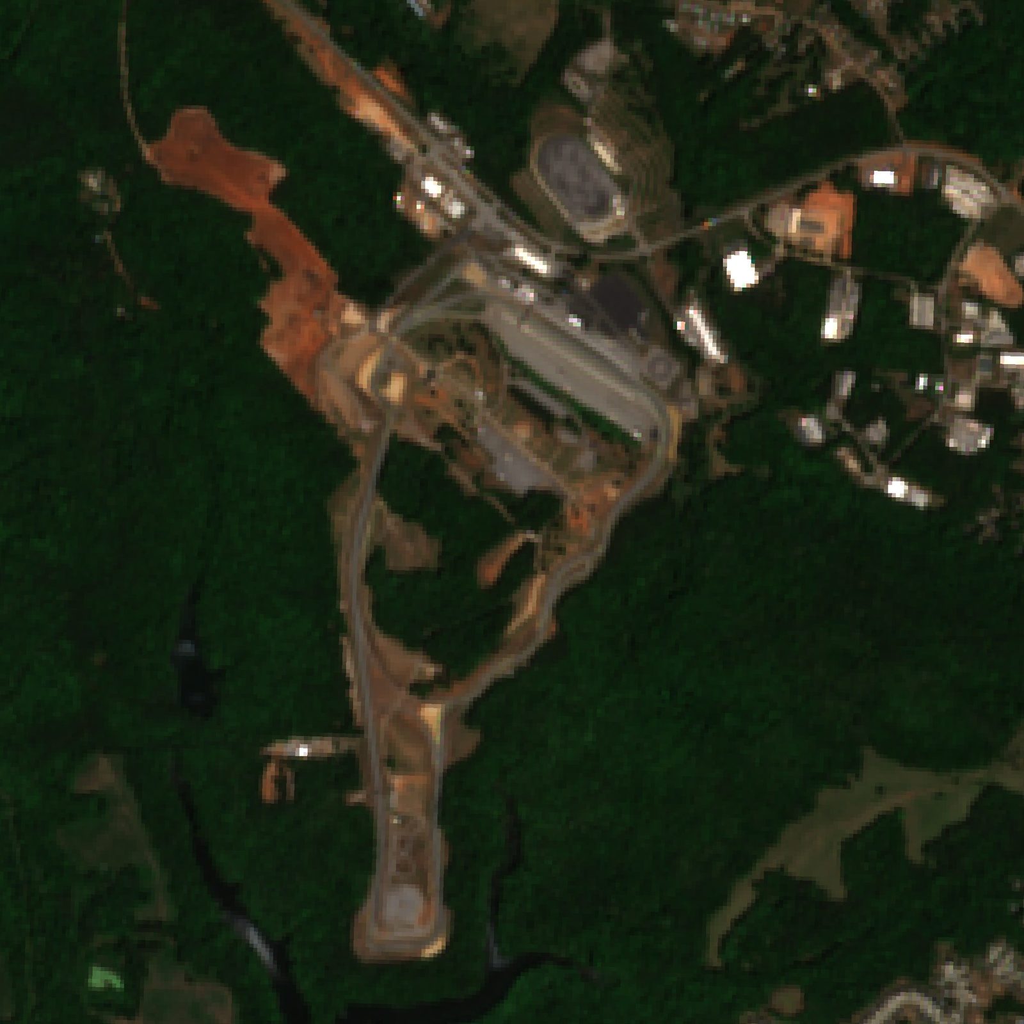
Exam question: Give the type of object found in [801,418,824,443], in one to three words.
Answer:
building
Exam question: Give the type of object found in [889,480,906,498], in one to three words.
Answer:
building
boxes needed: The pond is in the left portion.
[173,575,225,717]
